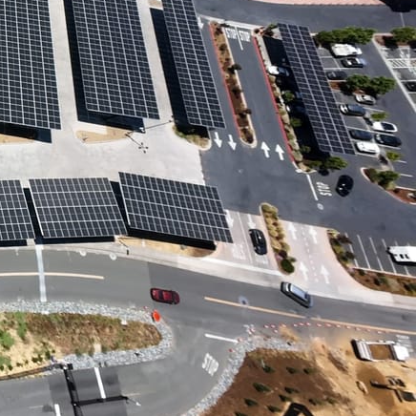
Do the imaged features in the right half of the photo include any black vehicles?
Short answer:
Yes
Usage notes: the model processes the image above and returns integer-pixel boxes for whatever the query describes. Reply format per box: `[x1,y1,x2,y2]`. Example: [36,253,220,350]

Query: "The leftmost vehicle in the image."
[149,287,179,305]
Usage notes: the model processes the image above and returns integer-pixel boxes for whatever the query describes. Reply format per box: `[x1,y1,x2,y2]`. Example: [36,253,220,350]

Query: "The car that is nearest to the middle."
[247,229,271,256]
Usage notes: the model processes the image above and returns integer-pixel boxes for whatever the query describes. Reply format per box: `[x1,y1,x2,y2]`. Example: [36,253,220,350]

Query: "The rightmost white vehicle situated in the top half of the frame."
[370,120,399,134]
